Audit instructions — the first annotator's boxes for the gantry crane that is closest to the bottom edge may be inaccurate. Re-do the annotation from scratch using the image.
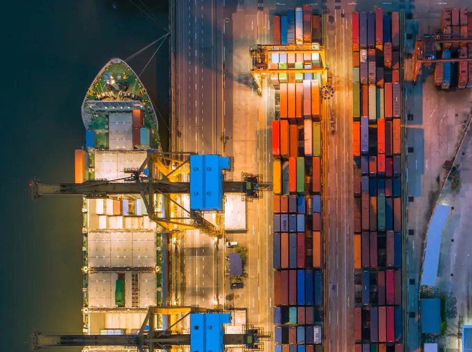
[29,294,270,352]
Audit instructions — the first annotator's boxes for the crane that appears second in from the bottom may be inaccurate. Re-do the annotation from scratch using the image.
[29,149,270,243]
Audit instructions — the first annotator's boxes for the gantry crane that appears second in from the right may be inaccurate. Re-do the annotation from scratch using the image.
[251,31,329,100]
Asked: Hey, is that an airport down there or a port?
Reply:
port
